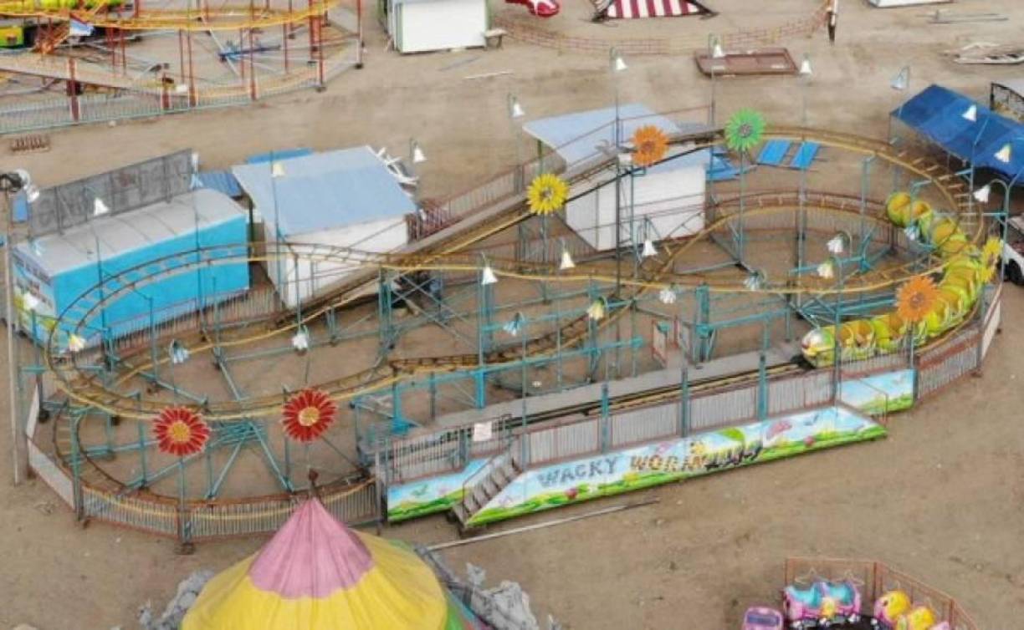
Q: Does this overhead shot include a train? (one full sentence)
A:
Yes, this view includes a train.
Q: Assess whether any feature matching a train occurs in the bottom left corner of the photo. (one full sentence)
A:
No, looking in the bottom left corner of the photo, there is no train.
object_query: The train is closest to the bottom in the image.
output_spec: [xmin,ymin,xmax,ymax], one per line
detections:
[796,191,994,373]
